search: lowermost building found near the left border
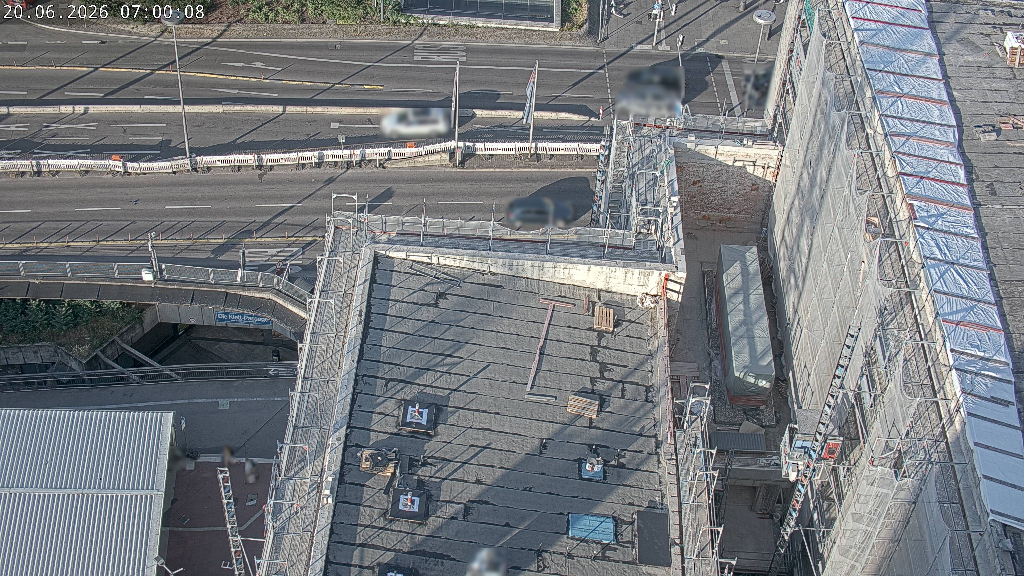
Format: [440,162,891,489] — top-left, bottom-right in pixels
[0,406,178,576]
